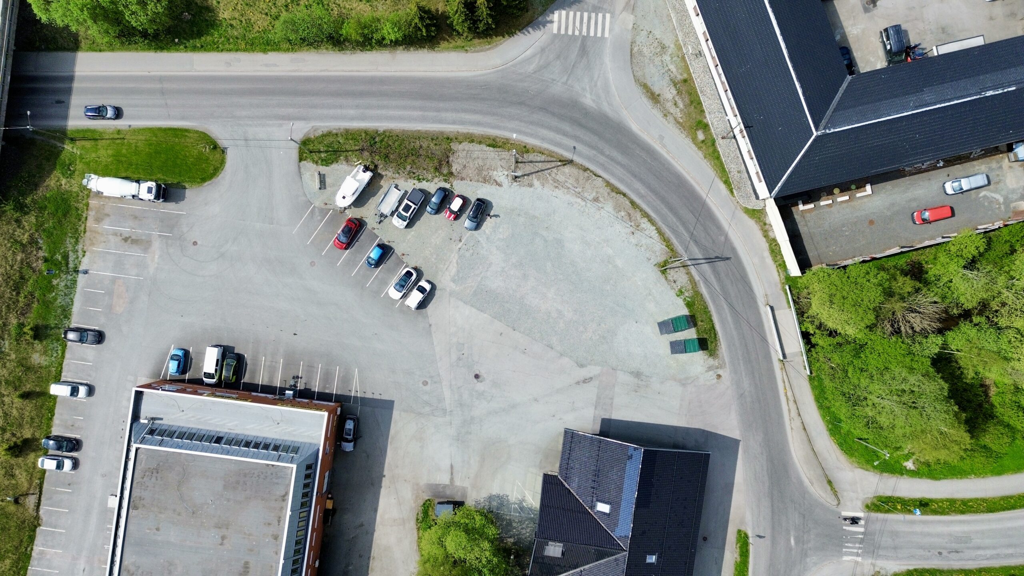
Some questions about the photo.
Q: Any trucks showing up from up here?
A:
Yes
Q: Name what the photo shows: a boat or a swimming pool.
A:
boat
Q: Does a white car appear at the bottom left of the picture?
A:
Yes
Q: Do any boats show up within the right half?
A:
No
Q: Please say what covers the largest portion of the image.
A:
paved ground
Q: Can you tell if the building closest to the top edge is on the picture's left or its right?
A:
right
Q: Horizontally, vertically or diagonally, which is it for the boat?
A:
diagonally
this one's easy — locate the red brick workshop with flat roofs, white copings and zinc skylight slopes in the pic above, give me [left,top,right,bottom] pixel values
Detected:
[106,380,358,576]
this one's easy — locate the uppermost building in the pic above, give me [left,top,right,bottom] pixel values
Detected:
[684,0,1024,201]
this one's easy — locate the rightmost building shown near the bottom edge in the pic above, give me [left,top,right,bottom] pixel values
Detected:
[528,422,712,576]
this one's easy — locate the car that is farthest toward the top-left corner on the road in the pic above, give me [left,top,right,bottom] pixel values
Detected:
[83,103,120,121]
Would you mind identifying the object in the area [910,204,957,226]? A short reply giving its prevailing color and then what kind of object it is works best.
red vehicle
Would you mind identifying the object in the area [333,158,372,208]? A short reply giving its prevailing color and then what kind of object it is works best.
white boat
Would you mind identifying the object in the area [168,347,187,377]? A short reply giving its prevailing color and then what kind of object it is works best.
blue car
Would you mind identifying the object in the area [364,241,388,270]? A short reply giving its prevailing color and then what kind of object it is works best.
blue car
